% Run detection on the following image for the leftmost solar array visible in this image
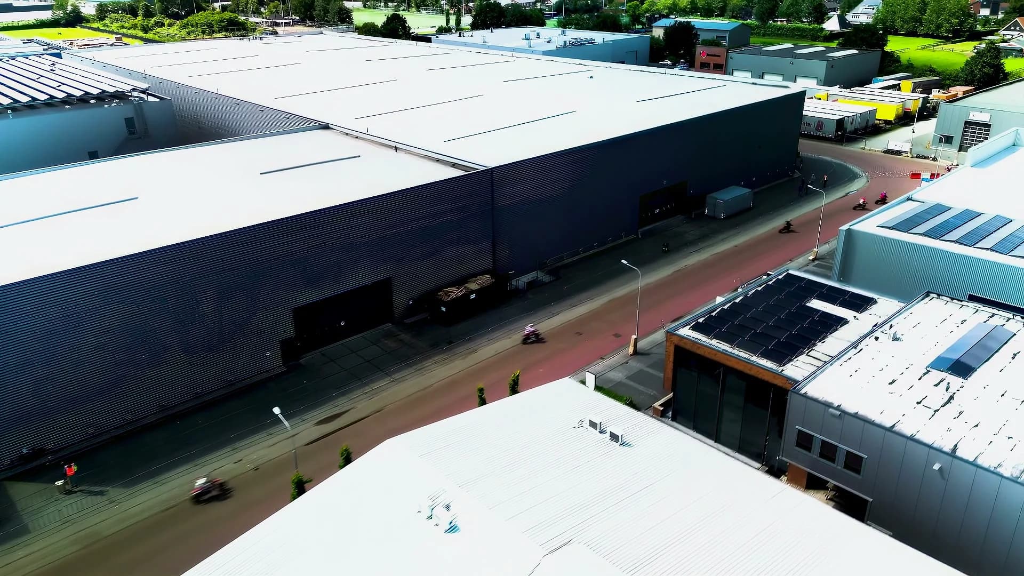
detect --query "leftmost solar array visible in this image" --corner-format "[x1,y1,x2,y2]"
[692,273,876,367]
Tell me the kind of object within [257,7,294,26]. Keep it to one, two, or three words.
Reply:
building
